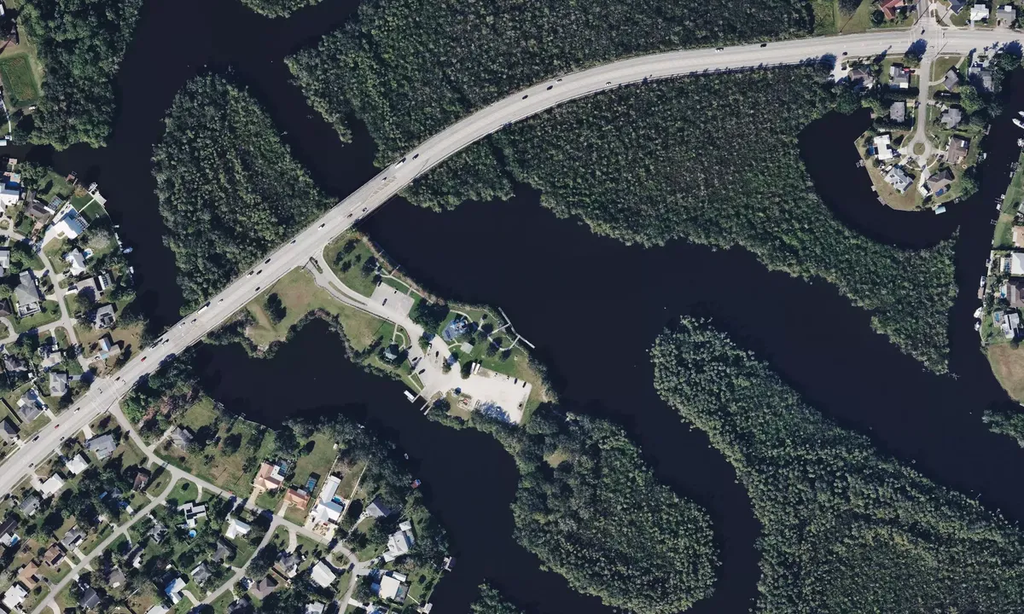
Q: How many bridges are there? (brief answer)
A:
2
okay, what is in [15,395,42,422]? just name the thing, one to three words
house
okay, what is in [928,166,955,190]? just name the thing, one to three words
house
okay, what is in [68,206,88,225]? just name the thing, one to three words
swimming pool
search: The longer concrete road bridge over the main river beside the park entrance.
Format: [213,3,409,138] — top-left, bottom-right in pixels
[322,164,407,239]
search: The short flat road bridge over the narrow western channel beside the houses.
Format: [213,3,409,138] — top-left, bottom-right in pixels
[142,307,219,369]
